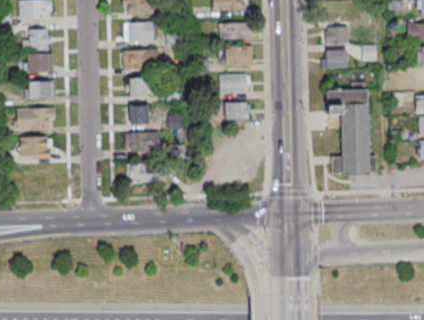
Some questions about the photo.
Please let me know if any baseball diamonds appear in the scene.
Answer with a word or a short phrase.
No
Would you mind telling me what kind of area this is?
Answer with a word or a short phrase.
residential area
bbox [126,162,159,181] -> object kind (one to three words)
house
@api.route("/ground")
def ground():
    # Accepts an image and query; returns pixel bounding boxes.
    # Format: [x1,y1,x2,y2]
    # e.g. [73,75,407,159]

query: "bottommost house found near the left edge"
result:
[20,136,53,156]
